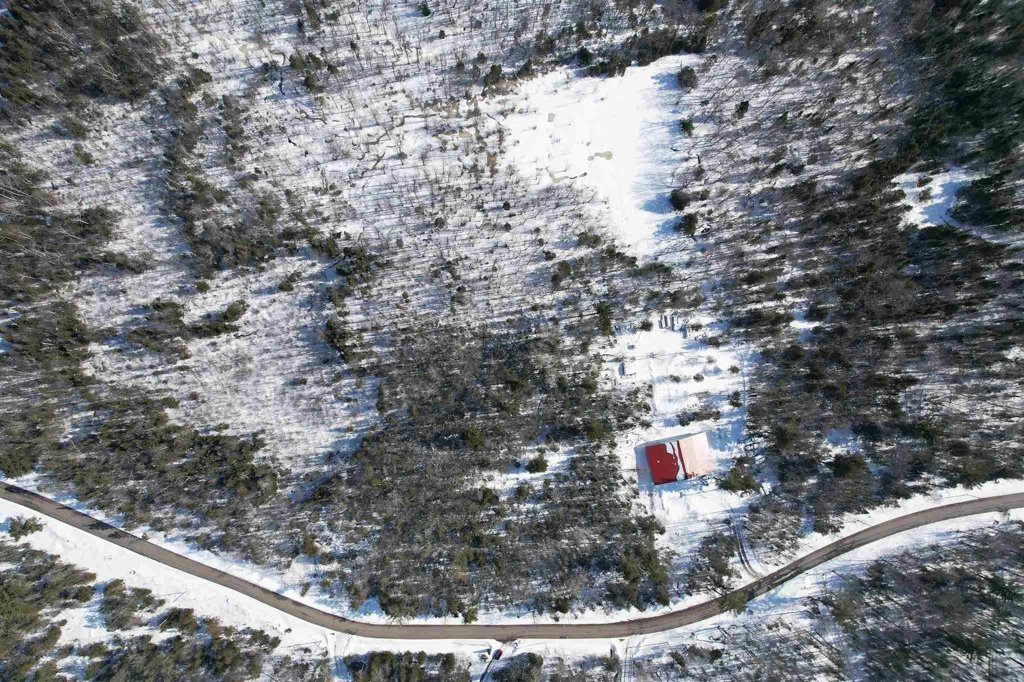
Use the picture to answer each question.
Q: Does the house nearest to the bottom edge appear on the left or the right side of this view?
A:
right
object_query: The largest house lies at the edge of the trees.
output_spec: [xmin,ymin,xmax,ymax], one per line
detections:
[647,433,714,484]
